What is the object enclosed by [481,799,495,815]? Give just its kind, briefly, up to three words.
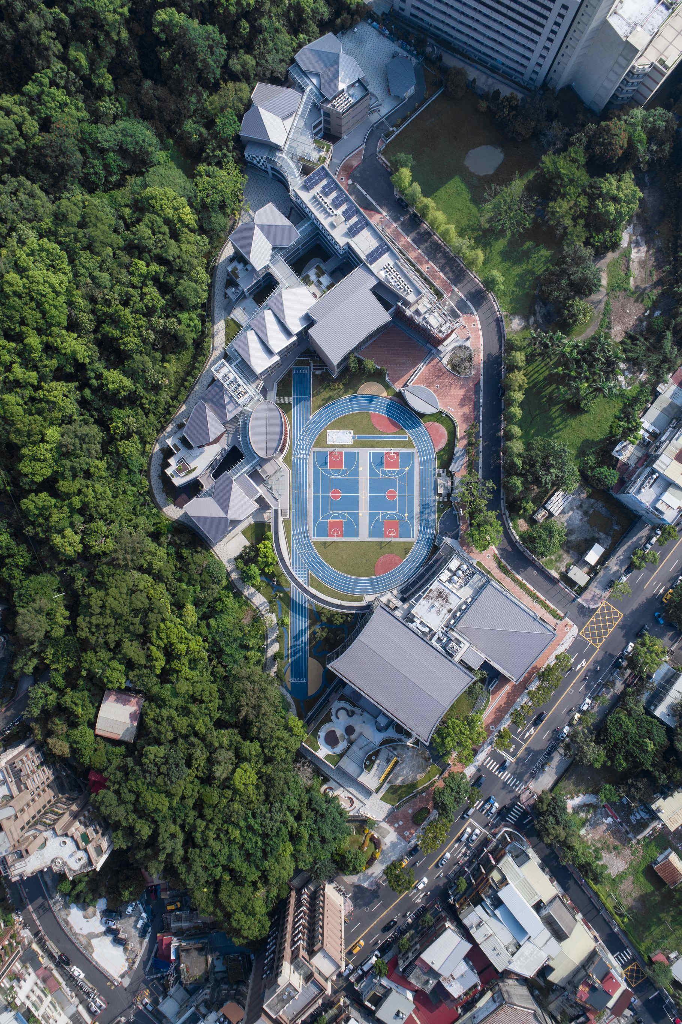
vehicle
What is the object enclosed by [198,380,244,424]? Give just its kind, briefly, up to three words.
building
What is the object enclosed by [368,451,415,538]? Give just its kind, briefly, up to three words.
basketball court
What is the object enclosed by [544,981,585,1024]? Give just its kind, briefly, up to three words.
house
